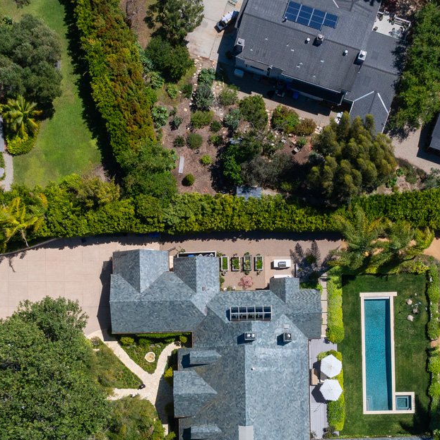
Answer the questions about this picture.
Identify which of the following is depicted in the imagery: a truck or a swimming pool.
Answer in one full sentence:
There is a swimming pool in the scene.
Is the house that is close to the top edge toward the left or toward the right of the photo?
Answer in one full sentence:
You can find the house that is close to the top edge on the right side of the picture.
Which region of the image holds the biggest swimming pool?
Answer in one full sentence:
The biggest swimming pool is located in the bottom right region of the scene.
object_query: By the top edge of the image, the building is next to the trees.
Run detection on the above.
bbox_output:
[233,0,411,138]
